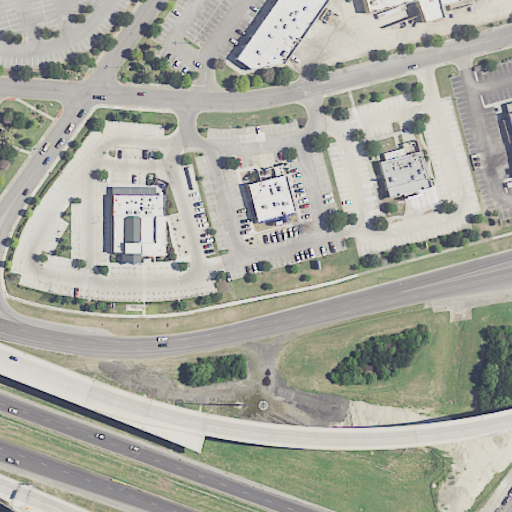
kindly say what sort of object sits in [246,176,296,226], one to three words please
building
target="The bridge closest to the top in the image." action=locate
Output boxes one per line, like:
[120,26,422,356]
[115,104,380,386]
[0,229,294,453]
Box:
[0,342,512,454]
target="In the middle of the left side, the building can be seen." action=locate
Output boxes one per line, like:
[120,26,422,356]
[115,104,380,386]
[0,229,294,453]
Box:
[109,186,166,263]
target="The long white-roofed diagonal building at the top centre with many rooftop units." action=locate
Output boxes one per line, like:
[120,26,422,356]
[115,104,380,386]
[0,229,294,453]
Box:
[234,0,328,69]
